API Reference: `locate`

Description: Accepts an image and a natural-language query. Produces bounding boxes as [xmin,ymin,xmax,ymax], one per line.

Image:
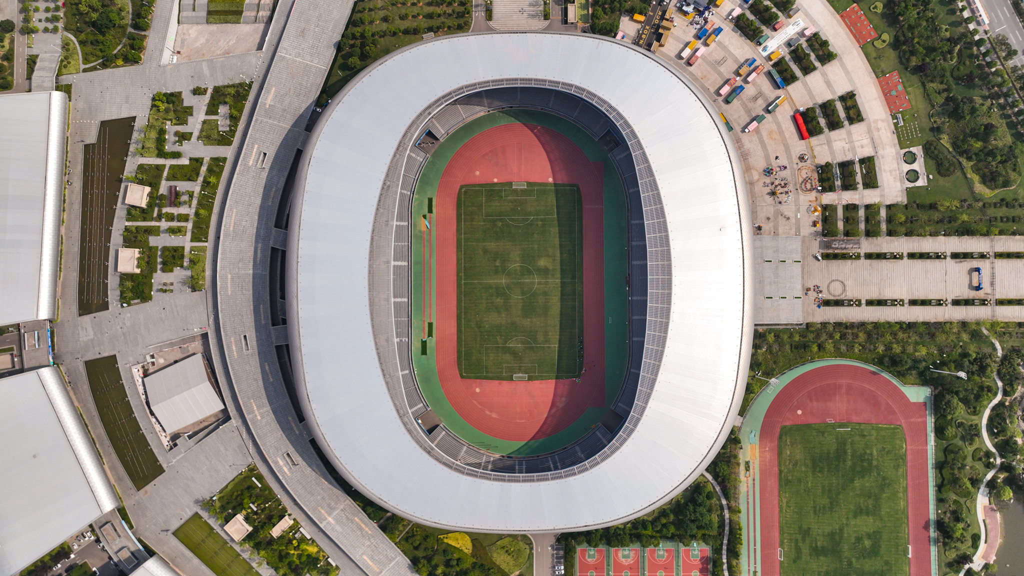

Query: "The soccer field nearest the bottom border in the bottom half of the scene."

[779,423,910,576]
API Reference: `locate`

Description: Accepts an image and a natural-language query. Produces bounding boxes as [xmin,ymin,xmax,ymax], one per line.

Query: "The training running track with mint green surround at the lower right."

[740,359,937,576]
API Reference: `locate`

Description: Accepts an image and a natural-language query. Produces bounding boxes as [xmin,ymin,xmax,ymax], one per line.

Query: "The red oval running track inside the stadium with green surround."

[412,108,628,457]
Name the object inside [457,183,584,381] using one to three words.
soccer field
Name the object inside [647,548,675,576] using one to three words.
basketball court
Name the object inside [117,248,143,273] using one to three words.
building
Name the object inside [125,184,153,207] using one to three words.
building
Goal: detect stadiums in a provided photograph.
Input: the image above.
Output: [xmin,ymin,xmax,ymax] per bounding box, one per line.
[285,27,756,536]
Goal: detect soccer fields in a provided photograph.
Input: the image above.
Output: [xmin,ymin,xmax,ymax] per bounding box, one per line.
[457,183,584,381]
[779,423,910,576]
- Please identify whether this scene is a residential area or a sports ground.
sports ground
